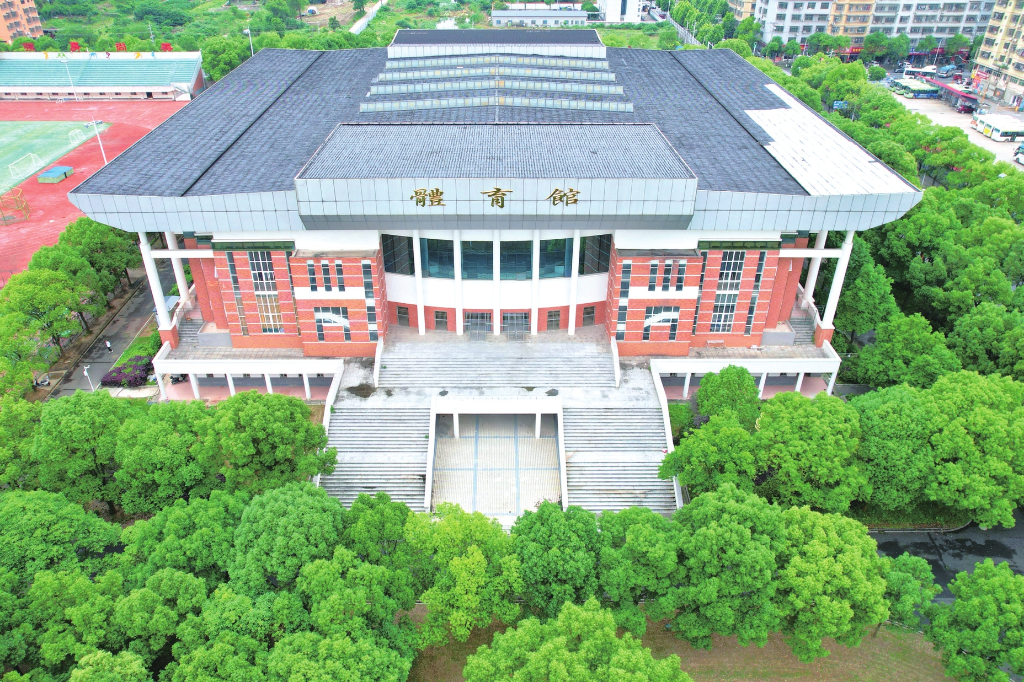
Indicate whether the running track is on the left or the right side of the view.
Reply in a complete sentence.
The running track sits on the left side.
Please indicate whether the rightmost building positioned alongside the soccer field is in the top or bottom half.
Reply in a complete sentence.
The rightmost building positioned alongside the soccer field is in the top half of the image.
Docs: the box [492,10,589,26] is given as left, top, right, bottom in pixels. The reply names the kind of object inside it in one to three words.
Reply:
shed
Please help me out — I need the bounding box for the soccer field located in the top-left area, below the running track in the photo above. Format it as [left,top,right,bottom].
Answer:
[0,122,110,193]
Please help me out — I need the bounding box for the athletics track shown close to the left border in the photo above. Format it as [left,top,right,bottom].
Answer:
[0,100,192,125]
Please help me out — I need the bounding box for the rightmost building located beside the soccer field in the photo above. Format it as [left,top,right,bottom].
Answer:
[68,28,926,356]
